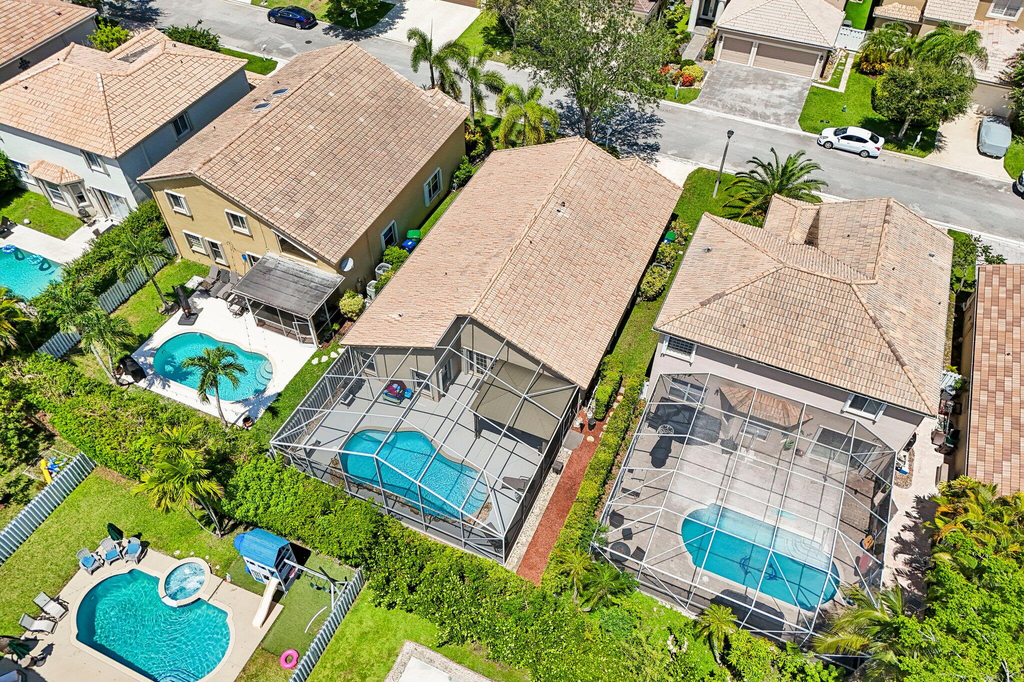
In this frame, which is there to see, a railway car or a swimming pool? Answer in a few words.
swimming pool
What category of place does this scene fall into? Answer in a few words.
residential area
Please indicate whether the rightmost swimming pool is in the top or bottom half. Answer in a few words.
bottom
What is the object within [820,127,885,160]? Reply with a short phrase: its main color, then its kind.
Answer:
white car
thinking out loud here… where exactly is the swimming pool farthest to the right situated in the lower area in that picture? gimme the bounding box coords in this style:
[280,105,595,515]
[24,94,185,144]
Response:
[675,497,847,618]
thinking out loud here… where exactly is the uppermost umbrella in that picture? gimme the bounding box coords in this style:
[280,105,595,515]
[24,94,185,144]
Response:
[171,280,198,326]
